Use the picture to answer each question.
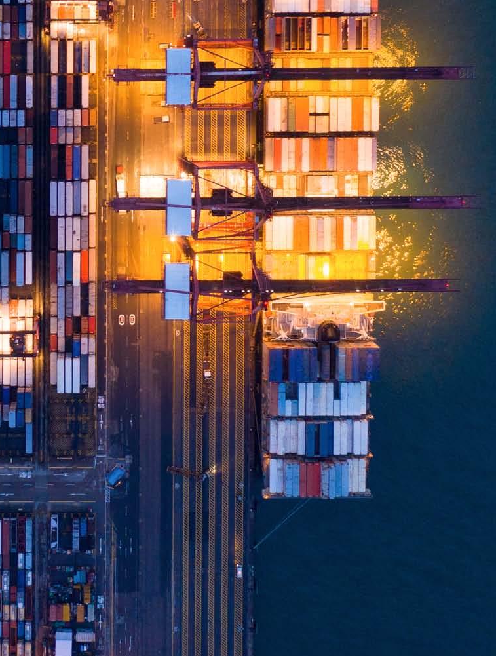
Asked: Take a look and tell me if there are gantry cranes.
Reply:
Yes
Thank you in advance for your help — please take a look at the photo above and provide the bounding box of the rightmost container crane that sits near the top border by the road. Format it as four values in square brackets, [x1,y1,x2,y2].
[108,28,476,118]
